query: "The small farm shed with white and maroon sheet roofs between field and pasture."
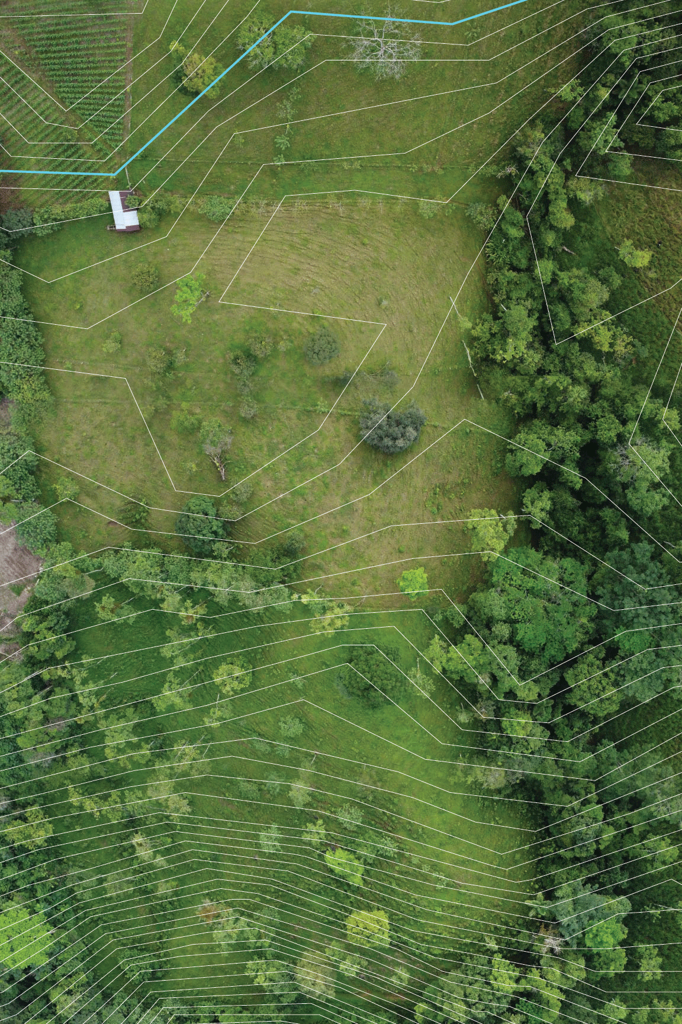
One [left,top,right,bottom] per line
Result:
[108,189,140,232]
